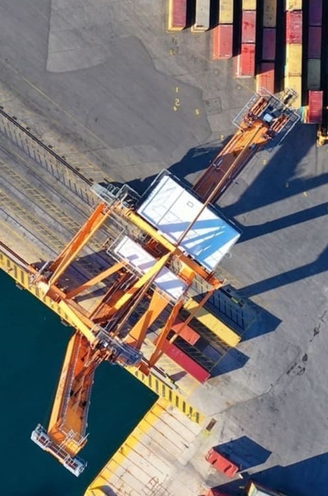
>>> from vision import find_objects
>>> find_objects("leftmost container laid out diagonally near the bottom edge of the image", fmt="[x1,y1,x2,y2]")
[204,443,239,474]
